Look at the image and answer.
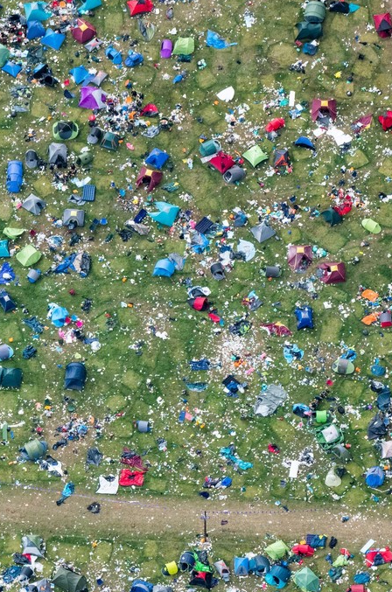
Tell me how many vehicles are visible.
none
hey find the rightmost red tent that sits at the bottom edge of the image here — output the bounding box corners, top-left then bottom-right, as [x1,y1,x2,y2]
[363,548,392,567]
